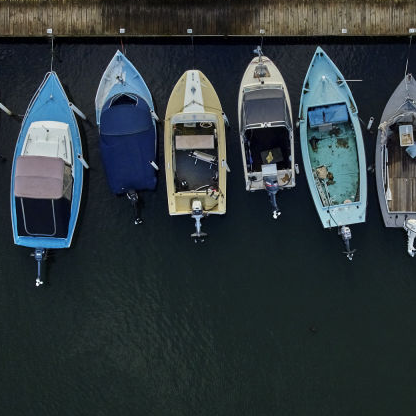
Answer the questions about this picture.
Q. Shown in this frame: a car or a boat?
boat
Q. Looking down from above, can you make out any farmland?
No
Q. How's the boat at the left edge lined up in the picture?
from top to bottom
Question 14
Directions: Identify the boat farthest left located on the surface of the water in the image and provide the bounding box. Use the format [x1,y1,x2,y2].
[10,71,84,287]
